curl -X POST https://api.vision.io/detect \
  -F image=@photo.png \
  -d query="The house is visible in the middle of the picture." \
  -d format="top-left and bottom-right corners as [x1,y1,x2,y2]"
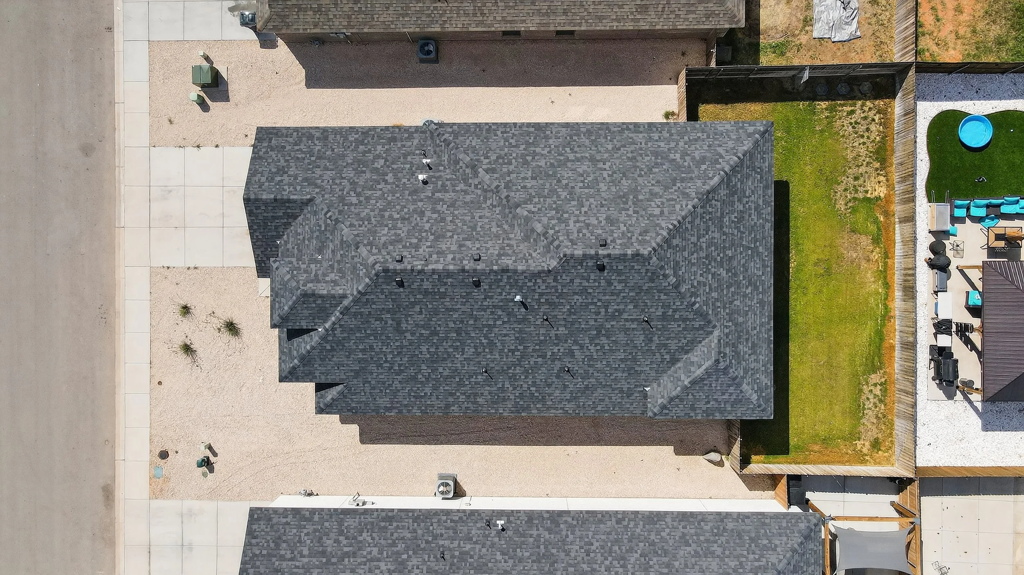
[243,120,774,420]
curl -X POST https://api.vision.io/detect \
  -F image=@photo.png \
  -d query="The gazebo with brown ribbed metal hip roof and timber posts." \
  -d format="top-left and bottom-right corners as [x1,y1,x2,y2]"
[956,260,1024,402]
